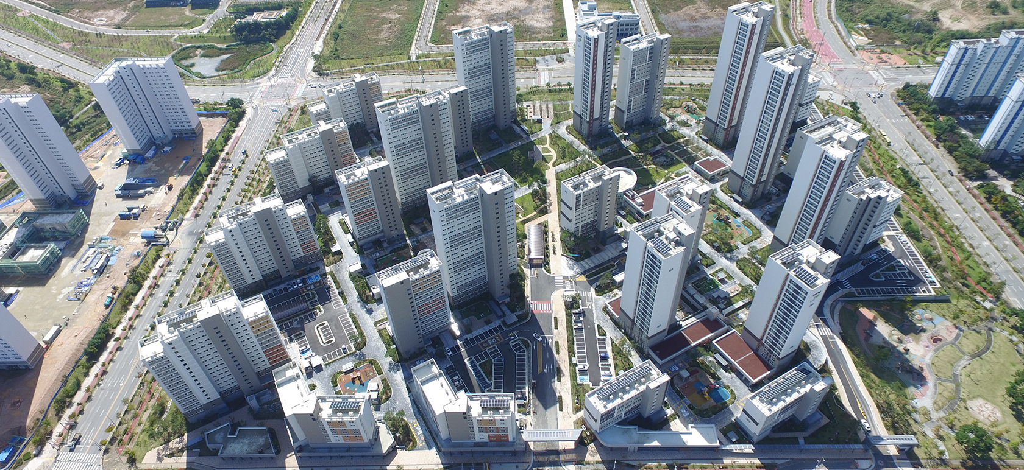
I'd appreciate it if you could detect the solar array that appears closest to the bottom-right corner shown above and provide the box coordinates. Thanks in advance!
[755,363,817,403]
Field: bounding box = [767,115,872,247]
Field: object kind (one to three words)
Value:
building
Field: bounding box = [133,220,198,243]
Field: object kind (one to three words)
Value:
shed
